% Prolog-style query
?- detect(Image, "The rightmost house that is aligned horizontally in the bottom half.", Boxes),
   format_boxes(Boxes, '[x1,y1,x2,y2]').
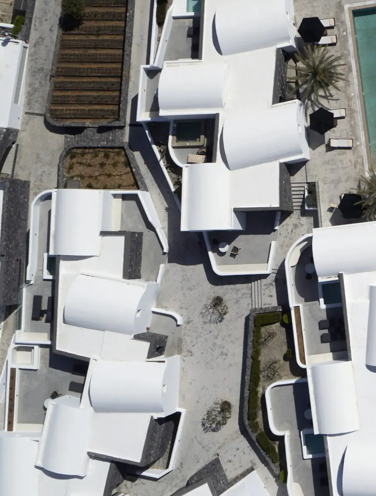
[221,467,286,496]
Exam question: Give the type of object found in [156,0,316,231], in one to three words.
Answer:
house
